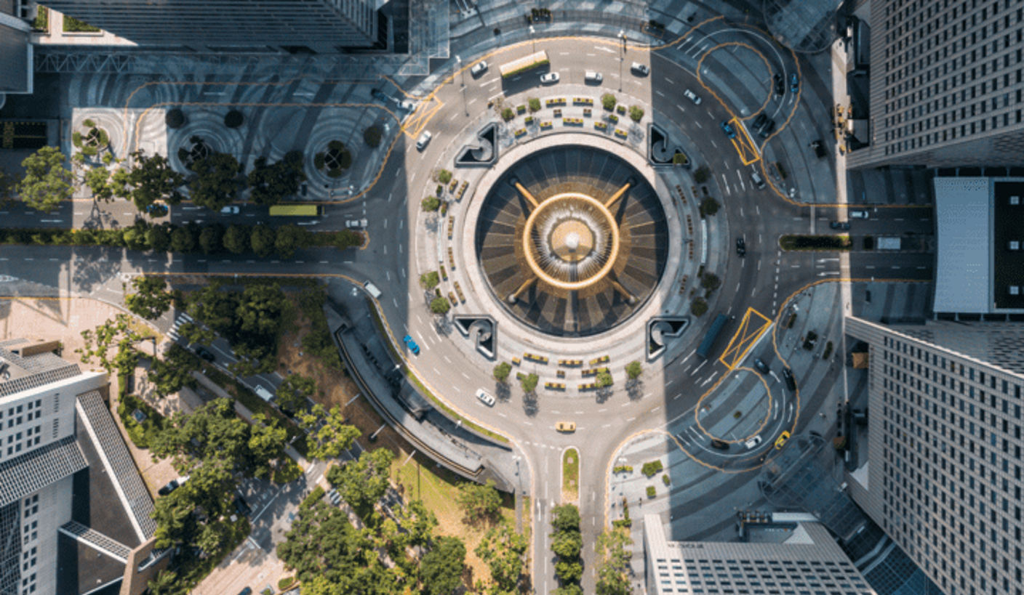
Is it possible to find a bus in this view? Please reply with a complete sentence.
Yes, there's a bus down there.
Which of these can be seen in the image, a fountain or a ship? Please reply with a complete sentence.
Of the two, only a fountain appears.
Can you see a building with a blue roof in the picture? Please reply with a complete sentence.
Yes, this view includes a building with a blue roof.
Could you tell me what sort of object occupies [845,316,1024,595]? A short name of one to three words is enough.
building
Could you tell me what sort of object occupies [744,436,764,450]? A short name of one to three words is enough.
car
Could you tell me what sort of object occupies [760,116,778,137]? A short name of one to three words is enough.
vehicle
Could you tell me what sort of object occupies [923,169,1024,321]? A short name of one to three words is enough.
building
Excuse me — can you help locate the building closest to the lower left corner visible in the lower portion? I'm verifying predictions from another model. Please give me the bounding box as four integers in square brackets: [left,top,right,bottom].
[0,335,179,595]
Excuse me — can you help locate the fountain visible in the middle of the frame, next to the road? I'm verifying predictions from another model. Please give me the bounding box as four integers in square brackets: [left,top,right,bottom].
[462,131,682,351]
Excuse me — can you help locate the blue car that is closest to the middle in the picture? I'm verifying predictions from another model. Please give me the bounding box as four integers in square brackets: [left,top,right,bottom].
[403,335,419,354]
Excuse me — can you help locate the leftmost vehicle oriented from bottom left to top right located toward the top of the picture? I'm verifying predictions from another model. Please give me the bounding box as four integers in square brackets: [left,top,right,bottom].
[415,130,431,149]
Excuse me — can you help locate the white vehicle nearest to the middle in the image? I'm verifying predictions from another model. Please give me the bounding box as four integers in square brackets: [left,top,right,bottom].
[475,390,494,406]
